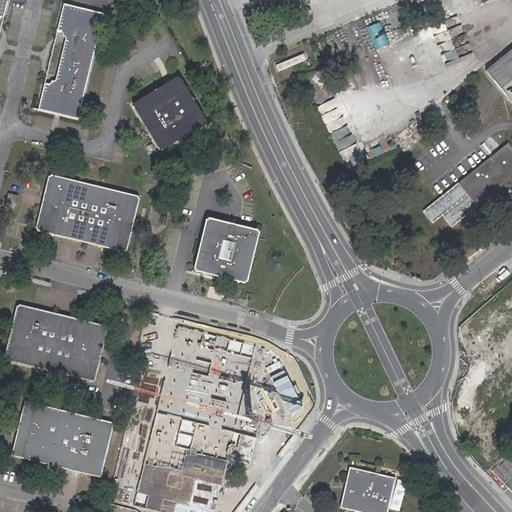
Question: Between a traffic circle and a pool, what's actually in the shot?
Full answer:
The image shows a traffic circle.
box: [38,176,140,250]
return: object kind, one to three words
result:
building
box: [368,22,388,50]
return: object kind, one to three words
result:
shed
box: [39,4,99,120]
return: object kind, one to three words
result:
building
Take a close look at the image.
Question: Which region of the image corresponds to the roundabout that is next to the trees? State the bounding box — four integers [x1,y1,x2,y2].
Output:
[276,254,468,441]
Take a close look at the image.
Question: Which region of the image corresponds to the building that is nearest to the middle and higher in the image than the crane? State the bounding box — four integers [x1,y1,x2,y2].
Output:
[196,218,261,282]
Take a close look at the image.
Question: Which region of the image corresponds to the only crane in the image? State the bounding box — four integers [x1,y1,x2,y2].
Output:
[106,378,313,440]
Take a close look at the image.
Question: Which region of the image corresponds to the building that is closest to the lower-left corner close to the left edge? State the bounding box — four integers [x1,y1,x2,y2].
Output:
[14,406,114,476]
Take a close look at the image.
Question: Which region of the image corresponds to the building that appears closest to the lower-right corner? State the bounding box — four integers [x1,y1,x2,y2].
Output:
[338,466,404,512]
